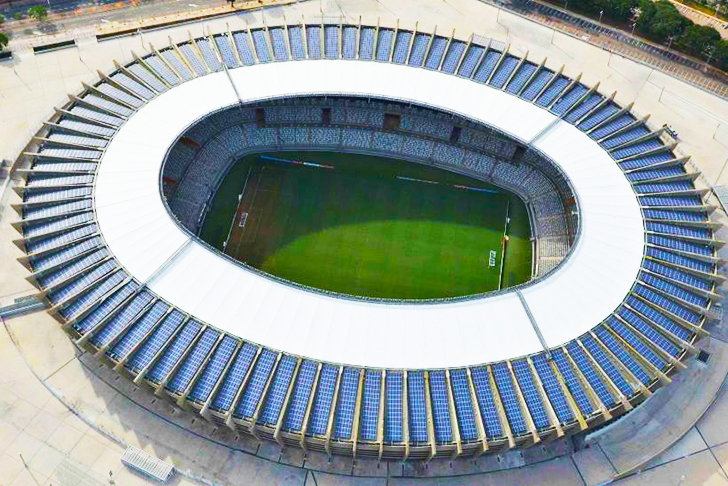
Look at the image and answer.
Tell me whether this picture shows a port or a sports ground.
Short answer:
sports ground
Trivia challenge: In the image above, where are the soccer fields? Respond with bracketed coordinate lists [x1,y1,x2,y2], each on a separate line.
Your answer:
[200,149,531,301]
